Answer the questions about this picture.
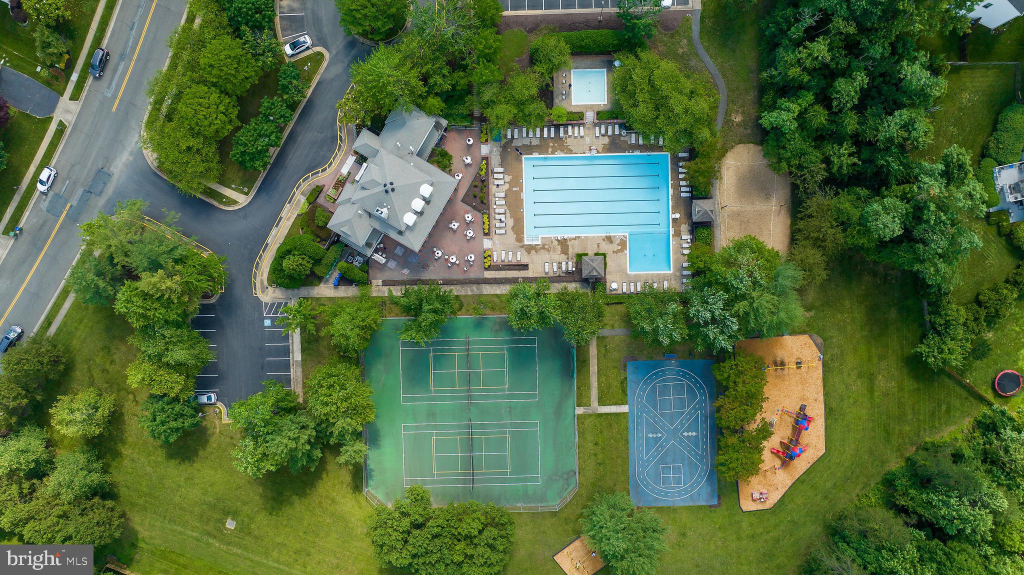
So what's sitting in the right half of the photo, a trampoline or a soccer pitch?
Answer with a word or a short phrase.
trampoline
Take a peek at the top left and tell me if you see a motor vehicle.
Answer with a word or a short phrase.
Yes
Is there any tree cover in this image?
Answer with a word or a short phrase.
Yes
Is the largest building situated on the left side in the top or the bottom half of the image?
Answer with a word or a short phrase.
top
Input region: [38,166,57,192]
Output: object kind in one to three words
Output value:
car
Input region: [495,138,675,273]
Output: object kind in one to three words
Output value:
swimming pool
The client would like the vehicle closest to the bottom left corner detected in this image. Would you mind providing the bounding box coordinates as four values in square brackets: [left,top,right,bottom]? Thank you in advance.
[0,326,23,353]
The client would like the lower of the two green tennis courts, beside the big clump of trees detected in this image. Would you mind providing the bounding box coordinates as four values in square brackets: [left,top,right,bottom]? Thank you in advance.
[364,414,577,506]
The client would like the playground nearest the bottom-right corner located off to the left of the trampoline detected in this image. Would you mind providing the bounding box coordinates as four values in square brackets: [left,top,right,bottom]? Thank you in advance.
[734,331,826,512]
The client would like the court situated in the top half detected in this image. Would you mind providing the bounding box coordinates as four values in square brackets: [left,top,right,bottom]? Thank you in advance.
[720,143,791,265]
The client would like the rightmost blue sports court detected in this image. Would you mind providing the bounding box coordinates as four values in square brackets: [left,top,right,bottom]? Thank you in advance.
[627,360,718,507]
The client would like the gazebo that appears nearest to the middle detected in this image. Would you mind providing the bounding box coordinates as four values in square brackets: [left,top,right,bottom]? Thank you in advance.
[582,256,604,281]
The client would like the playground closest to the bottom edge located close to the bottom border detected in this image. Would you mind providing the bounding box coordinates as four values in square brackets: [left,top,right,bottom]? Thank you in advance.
[552,535,607,575]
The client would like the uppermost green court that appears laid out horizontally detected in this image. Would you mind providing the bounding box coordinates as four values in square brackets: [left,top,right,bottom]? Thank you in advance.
[363,316,575,418]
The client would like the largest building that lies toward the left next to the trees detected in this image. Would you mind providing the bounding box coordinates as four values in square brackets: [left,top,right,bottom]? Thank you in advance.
[326,100,459,257]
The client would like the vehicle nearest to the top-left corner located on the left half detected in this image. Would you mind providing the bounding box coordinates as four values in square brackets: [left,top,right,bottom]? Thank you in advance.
[88,48,110,78]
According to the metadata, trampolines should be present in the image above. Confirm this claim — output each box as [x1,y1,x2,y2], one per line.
[994,370,1022,397]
